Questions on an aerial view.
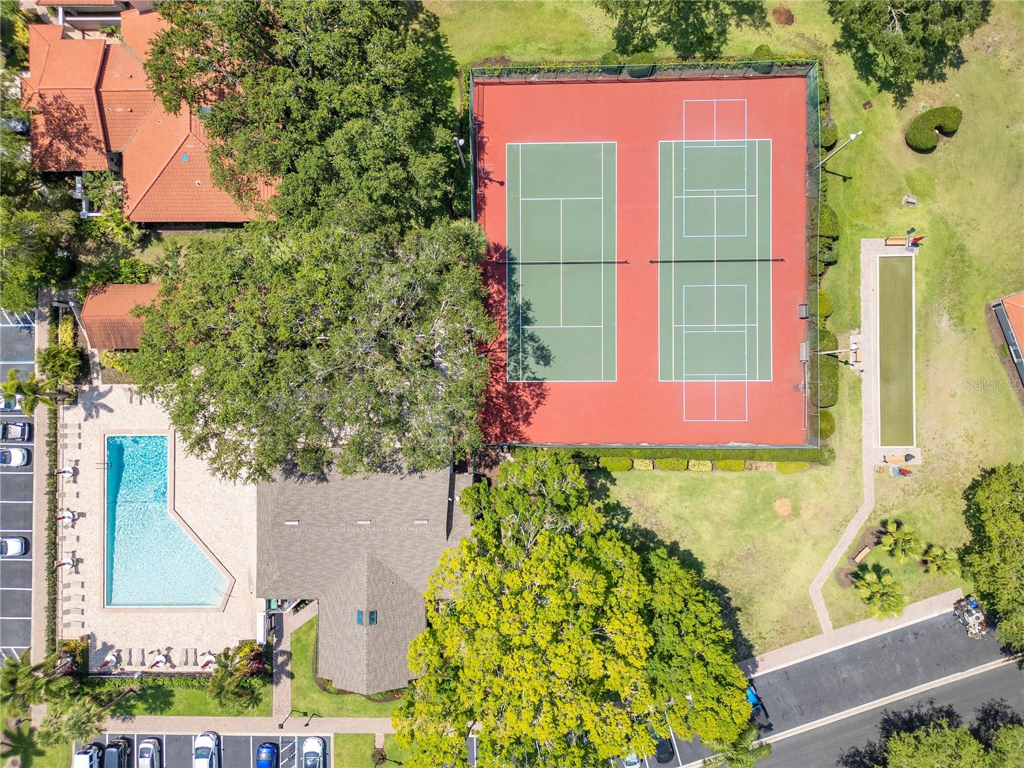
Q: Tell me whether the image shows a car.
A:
Yes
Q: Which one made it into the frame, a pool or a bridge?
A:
pool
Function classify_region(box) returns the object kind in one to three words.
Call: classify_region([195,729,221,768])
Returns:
car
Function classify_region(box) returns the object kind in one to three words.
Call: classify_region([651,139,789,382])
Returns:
tennis court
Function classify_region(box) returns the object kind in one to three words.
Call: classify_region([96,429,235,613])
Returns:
swimming pool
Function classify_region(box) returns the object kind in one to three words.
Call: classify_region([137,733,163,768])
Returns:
car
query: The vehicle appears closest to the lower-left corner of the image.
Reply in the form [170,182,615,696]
[74,741,103,768]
